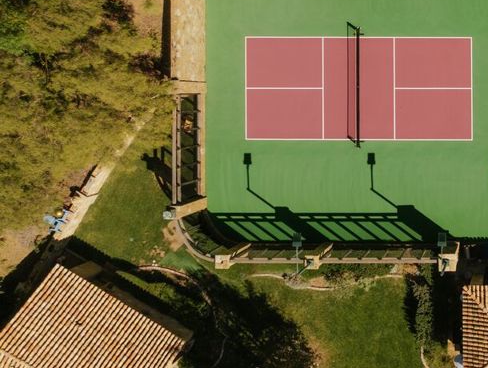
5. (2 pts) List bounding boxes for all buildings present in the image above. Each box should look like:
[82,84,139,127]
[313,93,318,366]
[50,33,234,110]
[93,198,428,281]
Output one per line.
[0,259,205,368]
[462,275,488,368]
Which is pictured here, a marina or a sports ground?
sports ground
